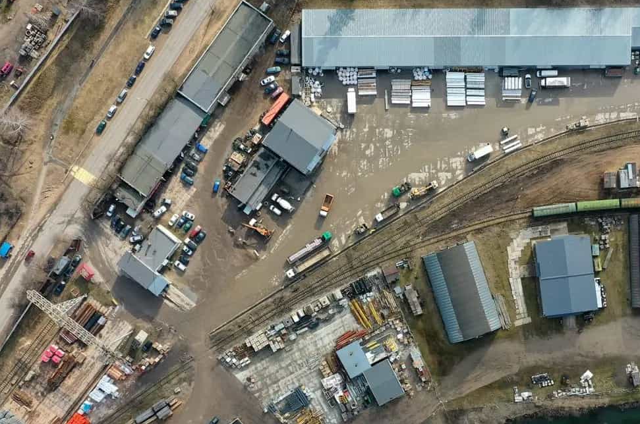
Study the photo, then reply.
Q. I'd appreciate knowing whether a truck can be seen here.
Yes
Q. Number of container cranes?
1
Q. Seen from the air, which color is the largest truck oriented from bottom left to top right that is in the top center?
red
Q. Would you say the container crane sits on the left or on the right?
left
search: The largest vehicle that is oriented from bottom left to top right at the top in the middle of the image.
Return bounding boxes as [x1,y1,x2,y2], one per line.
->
[258,92,291,125]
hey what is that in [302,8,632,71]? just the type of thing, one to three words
building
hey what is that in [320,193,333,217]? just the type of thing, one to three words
vehicle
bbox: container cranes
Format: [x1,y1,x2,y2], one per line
[25,292,141,367]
